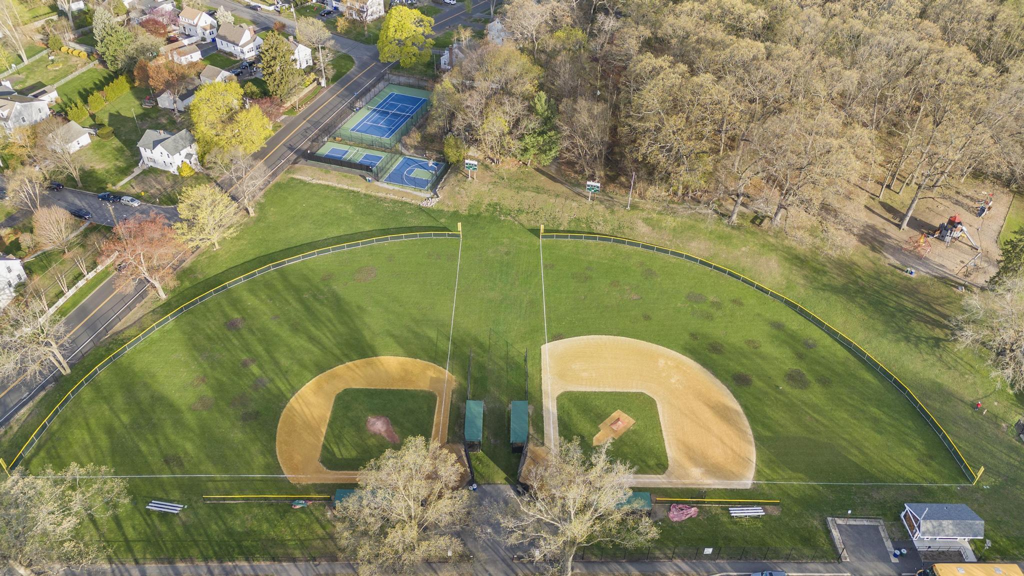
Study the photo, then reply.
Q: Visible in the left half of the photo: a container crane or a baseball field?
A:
baseball field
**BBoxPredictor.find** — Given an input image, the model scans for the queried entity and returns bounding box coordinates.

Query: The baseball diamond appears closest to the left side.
[11,237,474,495]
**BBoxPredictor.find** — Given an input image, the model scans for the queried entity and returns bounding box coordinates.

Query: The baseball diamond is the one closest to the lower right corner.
[521,239,973,496]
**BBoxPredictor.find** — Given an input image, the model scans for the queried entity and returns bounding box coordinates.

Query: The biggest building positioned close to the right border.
[897,503,986,549]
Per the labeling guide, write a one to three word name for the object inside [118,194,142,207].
vehicle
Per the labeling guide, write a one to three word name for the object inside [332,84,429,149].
tennis court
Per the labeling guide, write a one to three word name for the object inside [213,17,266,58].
house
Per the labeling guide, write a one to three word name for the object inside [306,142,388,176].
sports court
